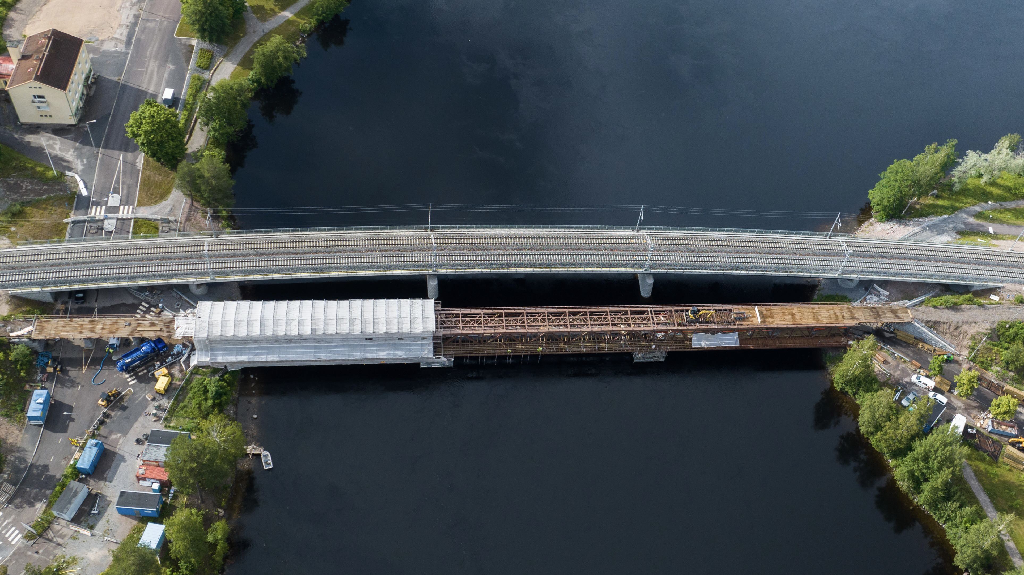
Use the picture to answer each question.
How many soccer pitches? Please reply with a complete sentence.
There are no soccer pitches in this view.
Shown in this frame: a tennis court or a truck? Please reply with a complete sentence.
Visible in the photo is a truck.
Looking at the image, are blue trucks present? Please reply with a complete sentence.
Yes, there's a blue truck down there.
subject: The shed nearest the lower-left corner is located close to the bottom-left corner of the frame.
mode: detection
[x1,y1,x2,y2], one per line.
[51,479,88,521]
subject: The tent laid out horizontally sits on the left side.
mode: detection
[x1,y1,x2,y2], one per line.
[194,297,435,369]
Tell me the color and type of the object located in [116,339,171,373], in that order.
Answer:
blue truck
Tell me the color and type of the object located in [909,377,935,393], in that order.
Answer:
white vehicle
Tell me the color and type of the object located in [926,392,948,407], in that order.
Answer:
white car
